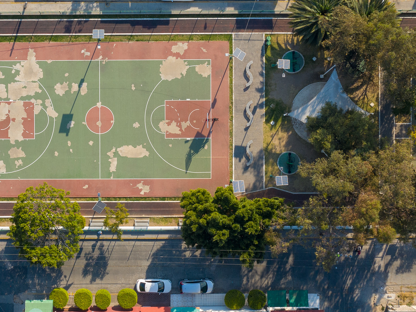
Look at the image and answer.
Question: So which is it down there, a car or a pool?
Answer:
car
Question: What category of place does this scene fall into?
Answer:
sports ground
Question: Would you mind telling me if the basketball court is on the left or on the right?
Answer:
left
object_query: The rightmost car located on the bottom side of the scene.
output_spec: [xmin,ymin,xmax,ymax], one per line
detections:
[179,277,214,295]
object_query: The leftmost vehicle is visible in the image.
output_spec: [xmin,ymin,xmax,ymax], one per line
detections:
[136,277,172,295]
